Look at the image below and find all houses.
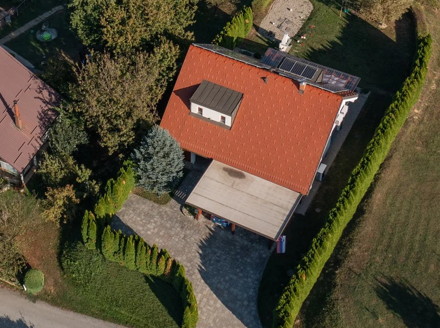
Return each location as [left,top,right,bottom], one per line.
[159,44,359,207]
[0,46,72,204]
